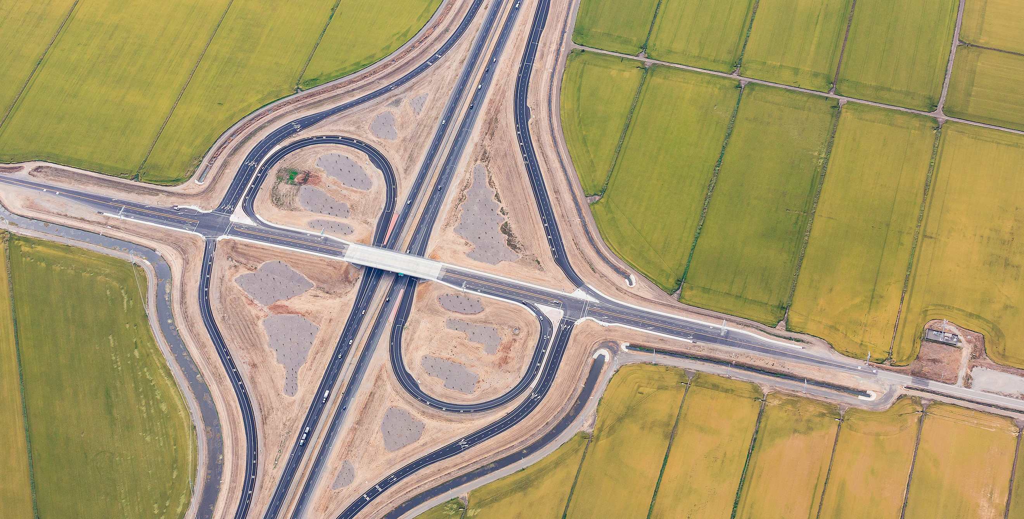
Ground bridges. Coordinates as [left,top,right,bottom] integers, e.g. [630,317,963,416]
[340,242,446,283]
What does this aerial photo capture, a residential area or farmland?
farmland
